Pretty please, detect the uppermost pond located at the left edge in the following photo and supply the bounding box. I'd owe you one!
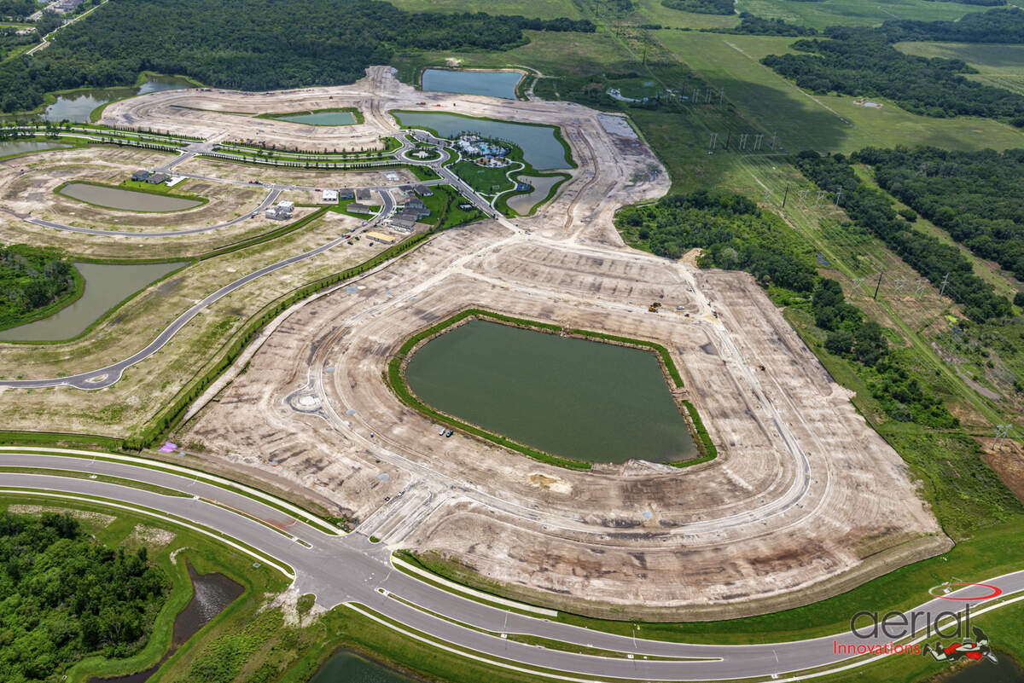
[0,75,197,122]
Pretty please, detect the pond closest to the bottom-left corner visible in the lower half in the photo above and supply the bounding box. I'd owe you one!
[87,563,243,683]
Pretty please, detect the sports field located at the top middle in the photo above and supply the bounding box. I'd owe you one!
[453,160,517,193]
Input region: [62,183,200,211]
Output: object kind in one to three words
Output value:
pond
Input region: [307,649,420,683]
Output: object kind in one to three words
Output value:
pond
